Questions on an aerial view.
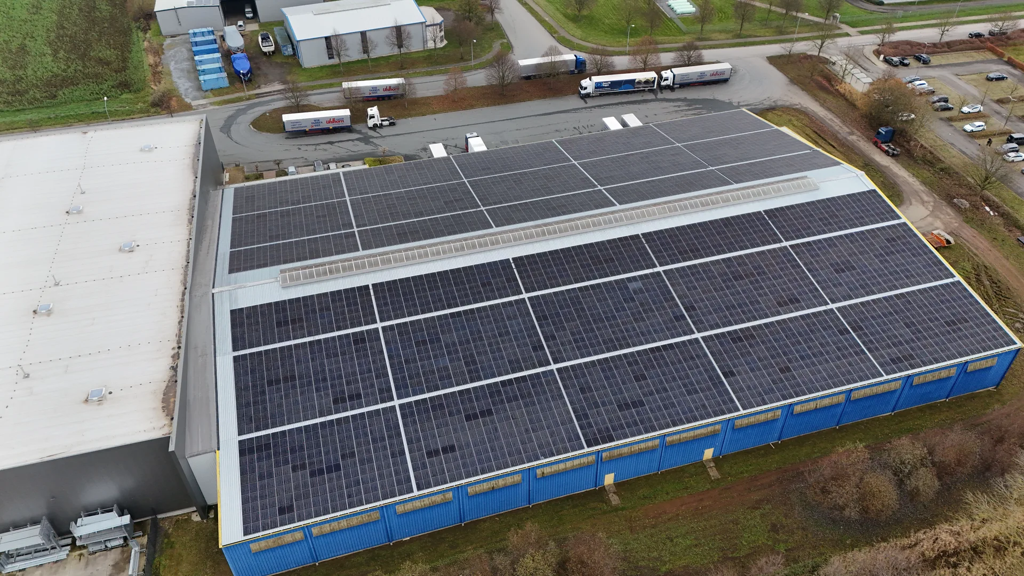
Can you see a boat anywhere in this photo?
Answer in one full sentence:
Yes, I can see a boat in this picture.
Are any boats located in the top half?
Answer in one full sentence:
Yes, a boat appears in the top half.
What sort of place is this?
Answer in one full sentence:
This image shows an industrial area.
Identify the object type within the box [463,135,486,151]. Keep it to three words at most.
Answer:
vehicle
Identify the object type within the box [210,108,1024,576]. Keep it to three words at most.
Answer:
warehouse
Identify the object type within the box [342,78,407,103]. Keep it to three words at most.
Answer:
trailer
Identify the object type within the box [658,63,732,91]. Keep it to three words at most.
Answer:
truck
